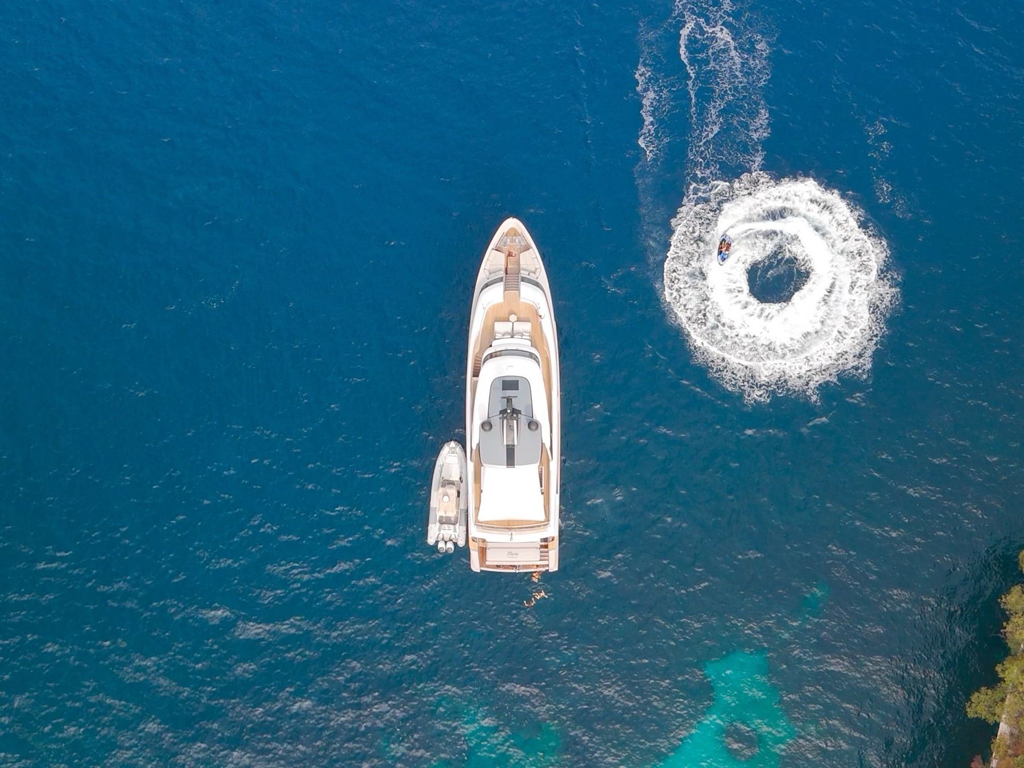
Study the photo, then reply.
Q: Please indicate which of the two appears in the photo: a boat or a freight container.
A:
boat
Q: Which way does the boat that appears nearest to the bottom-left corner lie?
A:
up and down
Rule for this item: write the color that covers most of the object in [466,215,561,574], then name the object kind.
white boat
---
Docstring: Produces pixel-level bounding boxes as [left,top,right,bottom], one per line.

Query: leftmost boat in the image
[428,441,468,552]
